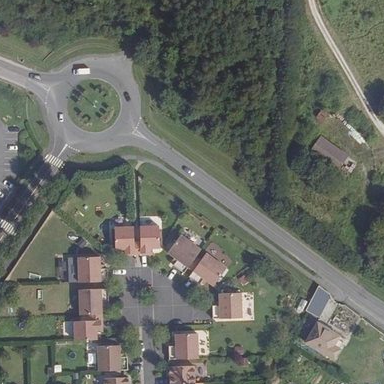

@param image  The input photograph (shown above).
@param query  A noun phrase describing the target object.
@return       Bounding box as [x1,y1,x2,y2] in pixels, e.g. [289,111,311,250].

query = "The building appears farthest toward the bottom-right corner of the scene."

[308,322,354,358]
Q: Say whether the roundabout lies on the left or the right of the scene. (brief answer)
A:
left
